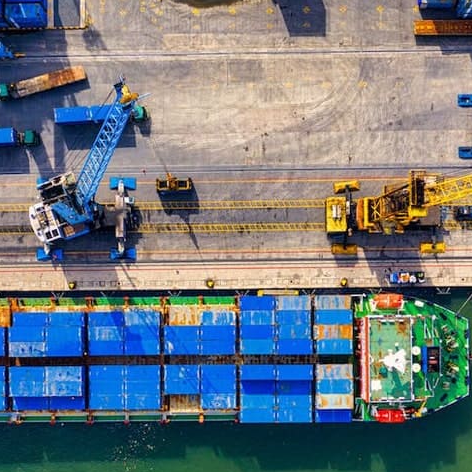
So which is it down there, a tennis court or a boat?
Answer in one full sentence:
The image shows a boat.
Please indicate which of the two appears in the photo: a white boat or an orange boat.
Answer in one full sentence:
Visible in the photo is an orange boat.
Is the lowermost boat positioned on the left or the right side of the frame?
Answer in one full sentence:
It is on the right.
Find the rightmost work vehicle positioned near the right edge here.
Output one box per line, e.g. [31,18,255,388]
[452,207,472,221]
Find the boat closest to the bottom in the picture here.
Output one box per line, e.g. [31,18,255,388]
[372,400,406,423]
